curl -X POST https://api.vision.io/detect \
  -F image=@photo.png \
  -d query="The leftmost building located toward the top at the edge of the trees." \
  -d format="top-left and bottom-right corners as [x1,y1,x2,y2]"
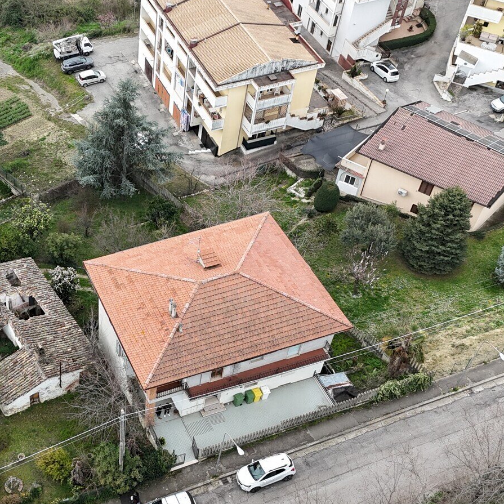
[134,0,333,165]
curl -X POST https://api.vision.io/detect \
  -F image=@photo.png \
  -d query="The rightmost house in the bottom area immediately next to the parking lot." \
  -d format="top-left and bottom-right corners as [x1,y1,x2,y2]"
[84,211,355,428]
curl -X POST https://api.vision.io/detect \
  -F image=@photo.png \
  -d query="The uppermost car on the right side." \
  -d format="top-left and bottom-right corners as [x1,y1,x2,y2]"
[366,56,404,80]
